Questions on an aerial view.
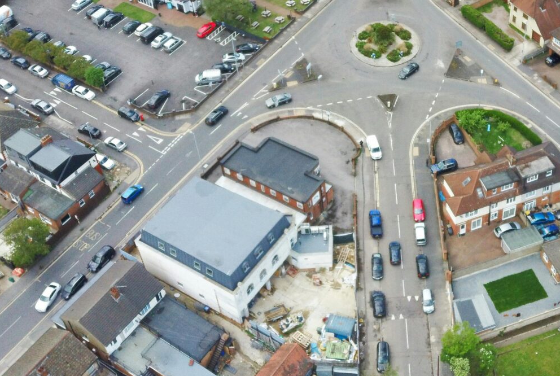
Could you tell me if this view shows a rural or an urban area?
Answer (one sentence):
This place is urban.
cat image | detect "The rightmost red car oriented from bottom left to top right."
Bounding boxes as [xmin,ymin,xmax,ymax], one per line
[196,22,217,38]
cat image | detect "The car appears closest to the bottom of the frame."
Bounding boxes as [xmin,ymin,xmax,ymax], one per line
[376,342,390,373]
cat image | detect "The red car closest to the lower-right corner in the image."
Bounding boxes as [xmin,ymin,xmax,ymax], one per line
[413,199,426,222]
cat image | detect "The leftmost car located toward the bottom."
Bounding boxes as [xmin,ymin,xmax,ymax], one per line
[35,284,62,311]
